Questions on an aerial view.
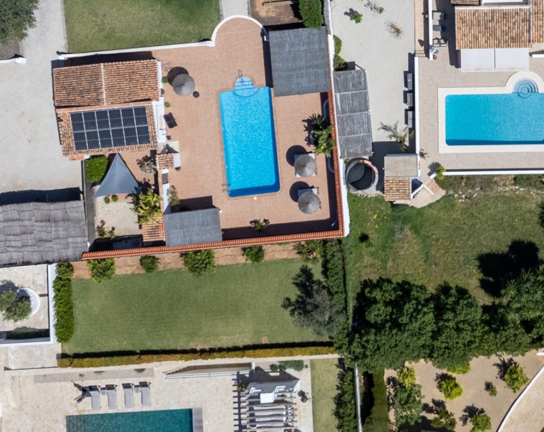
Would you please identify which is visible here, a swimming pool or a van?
swimming pool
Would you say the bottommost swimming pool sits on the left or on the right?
left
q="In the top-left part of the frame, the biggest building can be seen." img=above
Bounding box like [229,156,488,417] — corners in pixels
[53,59,168,161]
